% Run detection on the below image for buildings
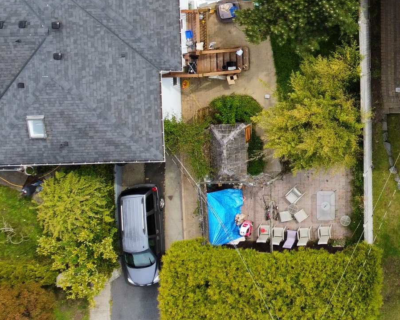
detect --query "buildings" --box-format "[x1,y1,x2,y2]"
[211,124,255,181]
[0,0,199,171]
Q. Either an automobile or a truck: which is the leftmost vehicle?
automobile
